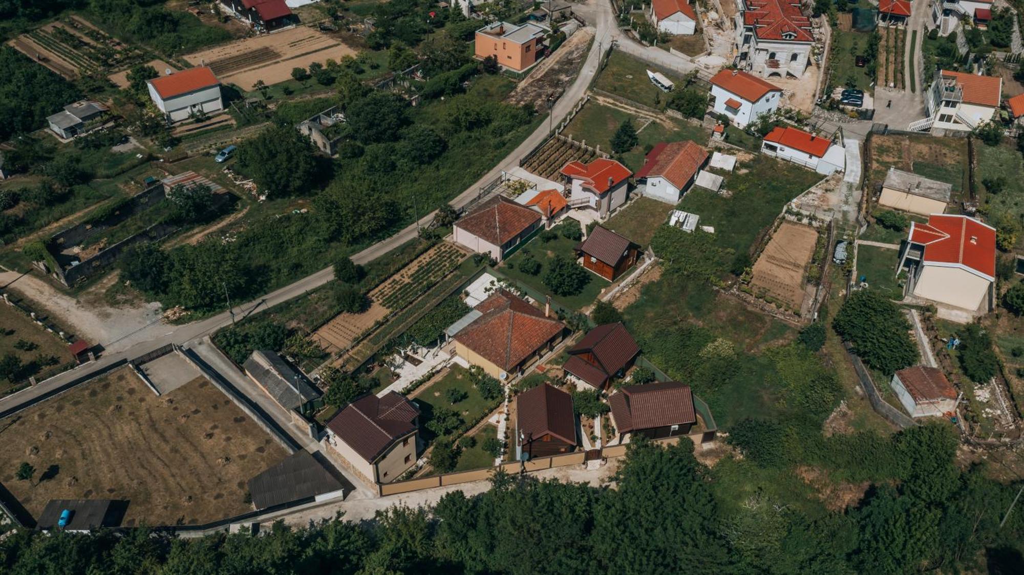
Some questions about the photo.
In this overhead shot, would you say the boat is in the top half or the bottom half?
top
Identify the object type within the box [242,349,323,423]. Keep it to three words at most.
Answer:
shed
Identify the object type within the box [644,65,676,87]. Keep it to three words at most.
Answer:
boat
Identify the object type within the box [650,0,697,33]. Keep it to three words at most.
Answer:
house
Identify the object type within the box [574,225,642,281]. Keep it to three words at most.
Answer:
building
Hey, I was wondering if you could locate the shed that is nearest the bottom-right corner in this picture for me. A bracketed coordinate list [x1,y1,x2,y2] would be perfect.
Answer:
[893,366,961,414]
